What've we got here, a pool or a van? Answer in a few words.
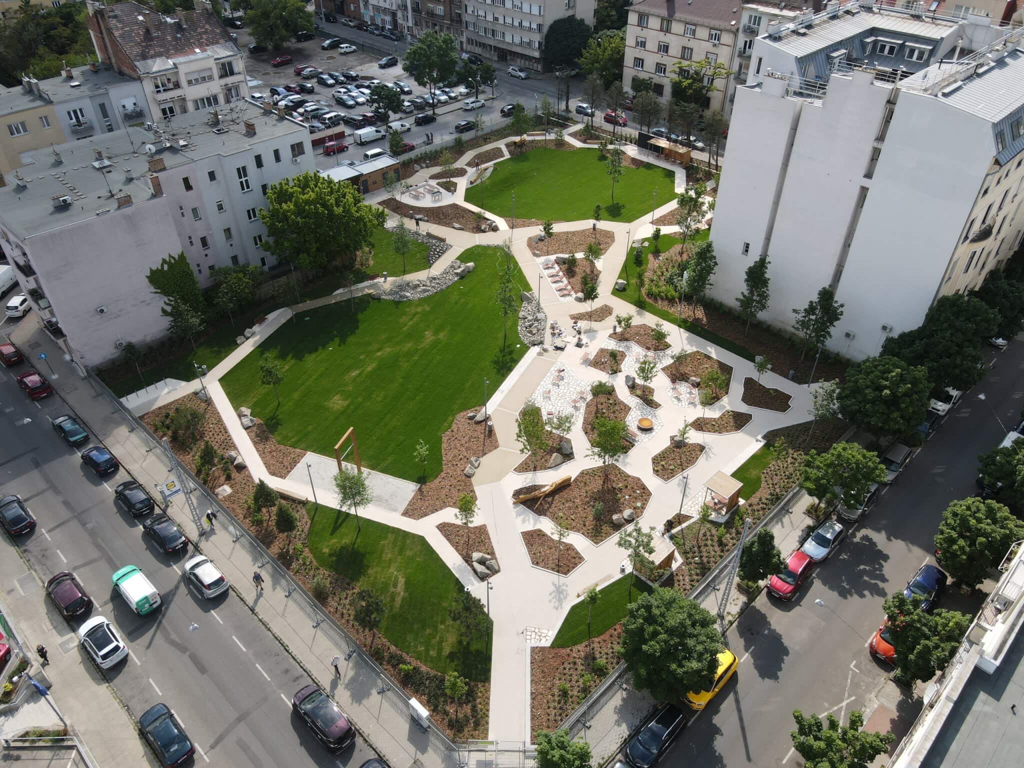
van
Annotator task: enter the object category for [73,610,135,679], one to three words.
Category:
car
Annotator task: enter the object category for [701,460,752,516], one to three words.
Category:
building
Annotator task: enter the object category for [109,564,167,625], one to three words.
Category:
van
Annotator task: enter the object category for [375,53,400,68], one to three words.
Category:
car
